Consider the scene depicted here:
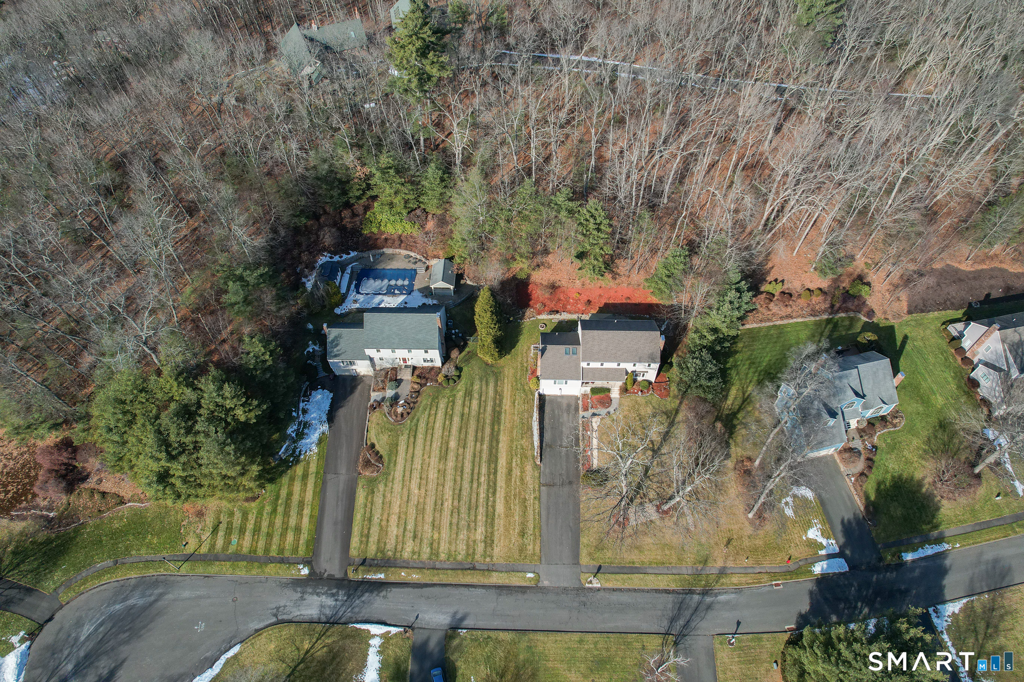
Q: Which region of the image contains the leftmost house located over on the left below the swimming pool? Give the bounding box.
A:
[322,306,447,383]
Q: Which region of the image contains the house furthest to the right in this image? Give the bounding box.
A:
[946,313,1024,408]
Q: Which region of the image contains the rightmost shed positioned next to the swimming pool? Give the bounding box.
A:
[430,261,455,295]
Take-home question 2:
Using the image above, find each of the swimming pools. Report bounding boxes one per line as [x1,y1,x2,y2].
[358,266,417,295]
